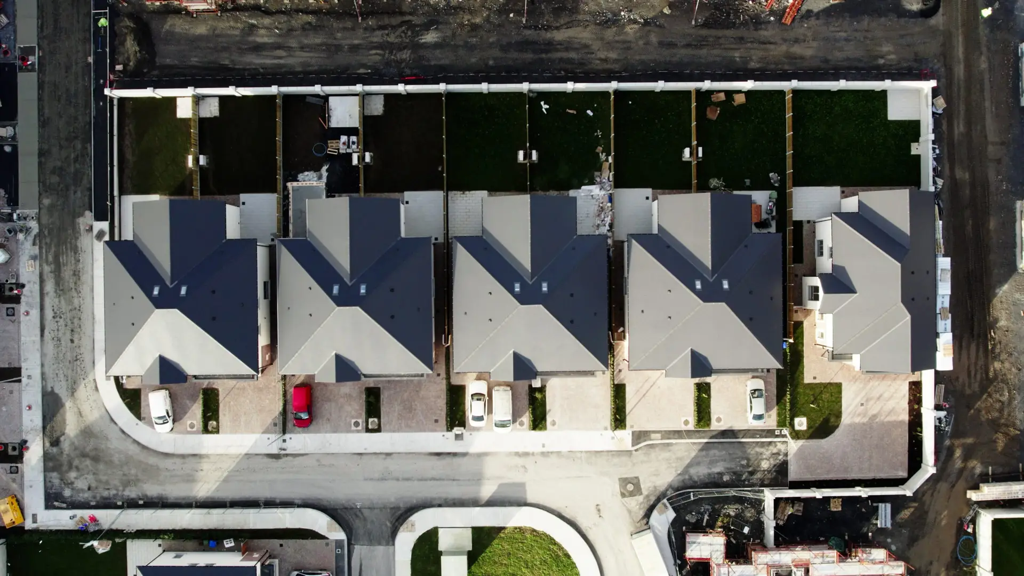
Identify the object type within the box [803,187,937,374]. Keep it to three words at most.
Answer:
house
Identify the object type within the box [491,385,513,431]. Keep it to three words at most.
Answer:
car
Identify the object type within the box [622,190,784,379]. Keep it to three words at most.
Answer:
house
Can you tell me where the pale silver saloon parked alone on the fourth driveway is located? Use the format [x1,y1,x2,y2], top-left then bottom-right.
[745,377,769,424]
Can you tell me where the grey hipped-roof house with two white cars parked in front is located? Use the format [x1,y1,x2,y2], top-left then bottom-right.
[451,192,609,381]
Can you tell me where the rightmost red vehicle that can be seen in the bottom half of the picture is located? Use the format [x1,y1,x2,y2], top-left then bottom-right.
[290,383,313,427]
